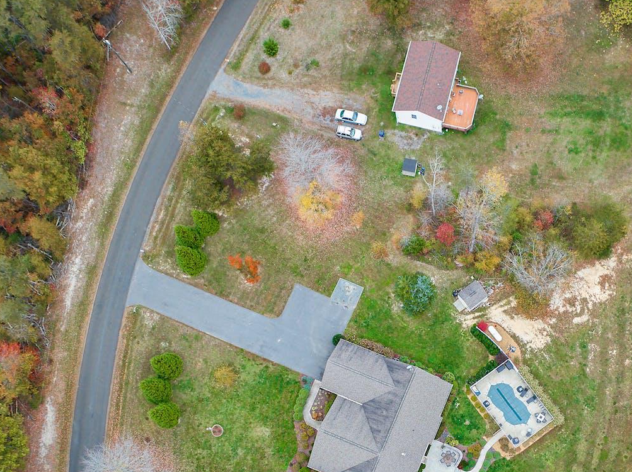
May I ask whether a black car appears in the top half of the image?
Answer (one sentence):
No, no black car is visible in the top half of the image.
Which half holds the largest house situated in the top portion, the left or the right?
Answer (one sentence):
The largest house situated in the top portion appears in the right half of the scene.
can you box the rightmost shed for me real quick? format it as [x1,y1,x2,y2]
[455,281,488,312]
